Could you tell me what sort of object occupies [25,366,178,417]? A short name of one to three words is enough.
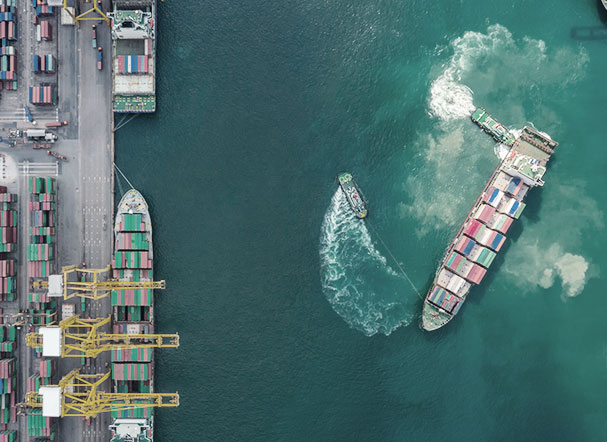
container crane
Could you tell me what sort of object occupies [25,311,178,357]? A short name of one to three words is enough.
container crane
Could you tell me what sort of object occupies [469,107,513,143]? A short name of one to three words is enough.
boat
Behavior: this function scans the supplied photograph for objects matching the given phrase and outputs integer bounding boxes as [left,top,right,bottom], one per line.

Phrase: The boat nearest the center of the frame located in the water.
[338,171,367,217]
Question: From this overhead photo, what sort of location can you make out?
port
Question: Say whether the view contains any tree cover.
No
